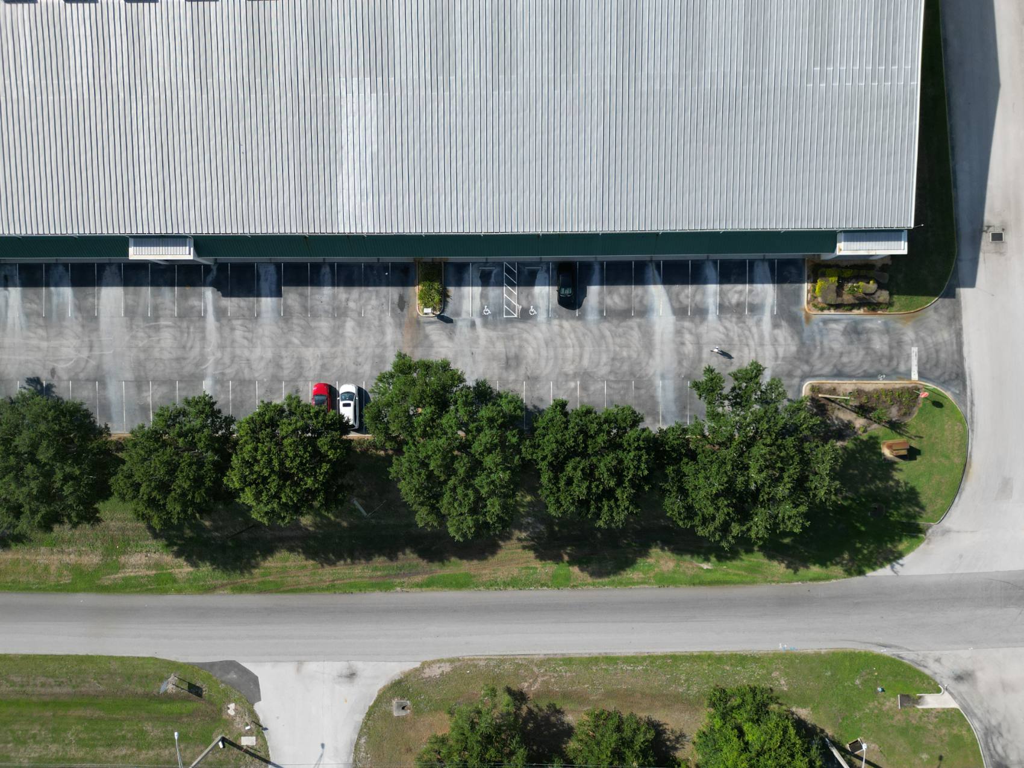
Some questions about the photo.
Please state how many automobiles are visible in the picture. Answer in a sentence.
I count 3 automobiles.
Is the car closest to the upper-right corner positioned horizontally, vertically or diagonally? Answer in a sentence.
The car closest to the upper-right corner has been laid out vertically relative to the frame.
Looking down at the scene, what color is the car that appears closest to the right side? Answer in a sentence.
In this view, the car that appears closest to the right side is black.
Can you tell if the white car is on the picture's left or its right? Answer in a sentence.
It is on the left.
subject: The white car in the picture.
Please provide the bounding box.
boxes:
[337,384,359,430]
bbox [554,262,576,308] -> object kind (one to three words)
car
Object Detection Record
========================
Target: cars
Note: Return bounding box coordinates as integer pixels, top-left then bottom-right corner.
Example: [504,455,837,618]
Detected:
[310,383,332,427]
[337,384,359,430]
[554,262,576,308]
